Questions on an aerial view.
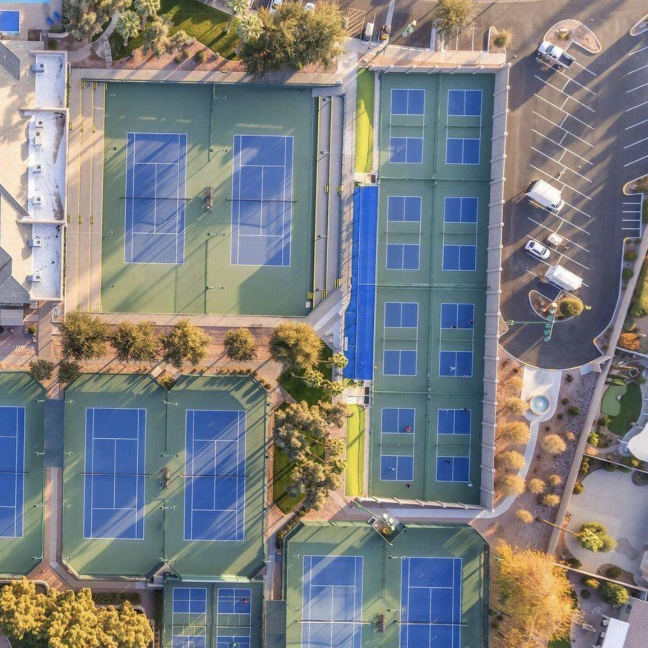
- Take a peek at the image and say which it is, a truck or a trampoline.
truck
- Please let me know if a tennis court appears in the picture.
Yes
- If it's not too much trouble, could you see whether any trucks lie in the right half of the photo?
Yes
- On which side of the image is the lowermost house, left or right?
right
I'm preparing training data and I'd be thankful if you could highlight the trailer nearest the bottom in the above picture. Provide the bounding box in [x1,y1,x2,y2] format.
[538,264,586,291]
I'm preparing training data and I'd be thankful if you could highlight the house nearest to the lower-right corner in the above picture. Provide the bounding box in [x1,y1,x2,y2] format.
[615,597,648,648]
